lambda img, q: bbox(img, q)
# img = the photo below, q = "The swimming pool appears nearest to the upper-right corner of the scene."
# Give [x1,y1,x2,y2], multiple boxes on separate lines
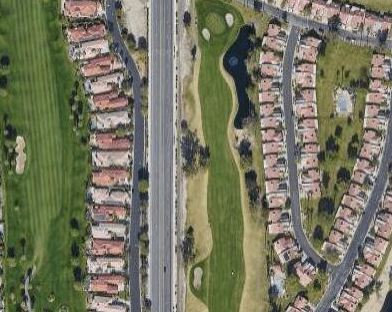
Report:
[335,91,353,115]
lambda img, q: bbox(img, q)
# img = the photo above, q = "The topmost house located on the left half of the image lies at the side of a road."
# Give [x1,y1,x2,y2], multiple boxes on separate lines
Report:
[64,0,105,16]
